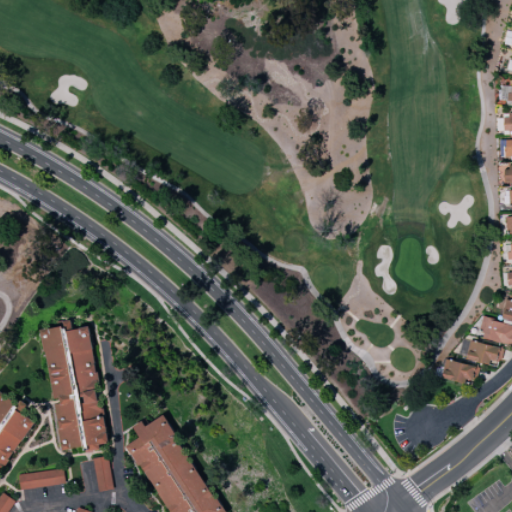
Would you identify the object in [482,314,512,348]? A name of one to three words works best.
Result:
house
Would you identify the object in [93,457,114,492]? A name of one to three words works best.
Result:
building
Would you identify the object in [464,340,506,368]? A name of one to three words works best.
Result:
house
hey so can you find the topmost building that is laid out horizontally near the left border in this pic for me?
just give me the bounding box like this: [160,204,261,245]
[19,470,66,490]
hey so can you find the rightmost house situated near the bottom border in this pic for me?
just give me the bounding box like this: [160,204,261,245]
[128,416,224,512]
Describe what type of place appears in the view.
golf course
